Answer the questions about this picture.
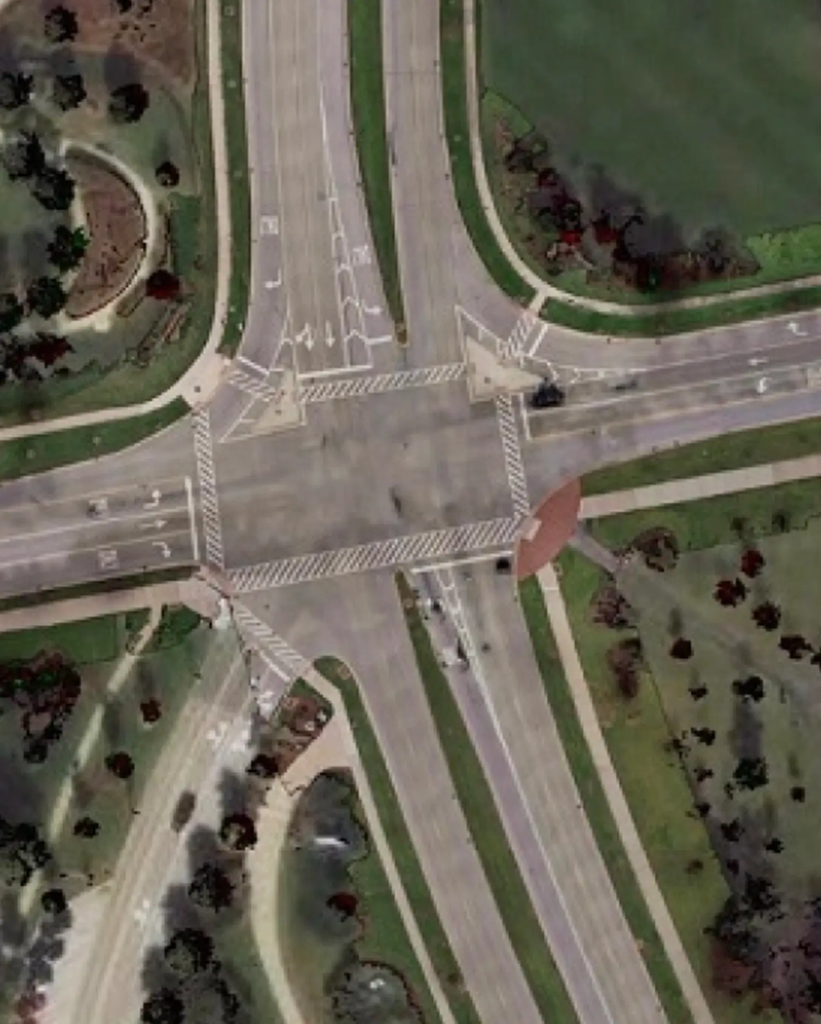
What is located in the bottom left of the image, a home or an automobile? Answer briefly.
automobile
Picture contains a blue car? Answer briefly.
No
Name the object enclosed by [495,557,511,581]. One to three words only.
car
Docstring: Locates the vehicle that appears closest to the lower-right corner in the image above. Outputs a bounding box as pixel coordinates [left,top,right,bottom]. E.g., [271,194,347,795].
[442,638,466,676]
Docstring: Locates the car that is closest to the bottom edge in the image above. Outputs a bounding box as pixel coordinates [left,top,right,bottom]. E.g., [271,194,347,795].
[168,790,198,833]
